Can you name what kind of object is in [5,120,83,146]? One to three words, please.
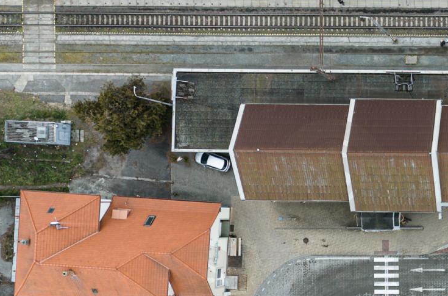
shipping container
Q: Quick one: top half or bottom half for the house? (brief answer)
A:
bottom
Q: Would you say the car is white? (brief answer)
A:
Yes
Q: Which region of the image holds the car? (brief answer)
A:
center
